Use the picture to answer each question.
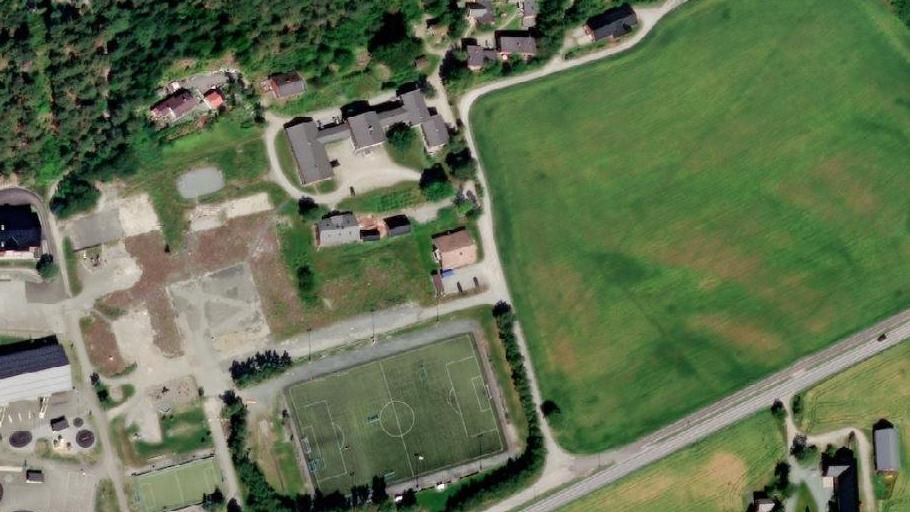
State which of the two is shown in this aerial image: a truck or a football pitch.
football pitch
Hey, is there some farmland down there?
Yes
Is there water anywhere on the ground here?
No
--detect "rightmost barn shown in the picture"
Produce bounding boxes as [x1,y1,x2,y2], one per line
[872,428,901,472]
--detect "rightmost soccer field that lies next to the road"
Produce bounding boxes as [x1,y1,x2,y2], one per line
[282,327,512,505]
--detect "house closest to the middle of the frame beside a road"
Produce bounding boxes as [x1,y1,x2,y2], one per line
[431,228,475,269]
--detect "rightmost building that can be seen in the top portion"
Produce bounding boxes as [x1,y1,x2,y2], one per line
[584,5,637,43]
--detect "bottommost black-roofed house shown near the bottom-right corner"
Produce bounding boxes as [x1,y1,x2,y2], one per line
[824,470,861,512]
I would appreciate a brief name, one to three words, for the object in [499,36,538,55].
house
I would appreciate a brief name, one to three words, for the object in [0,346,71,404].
building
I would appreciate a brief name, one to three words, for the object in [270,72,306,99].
house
